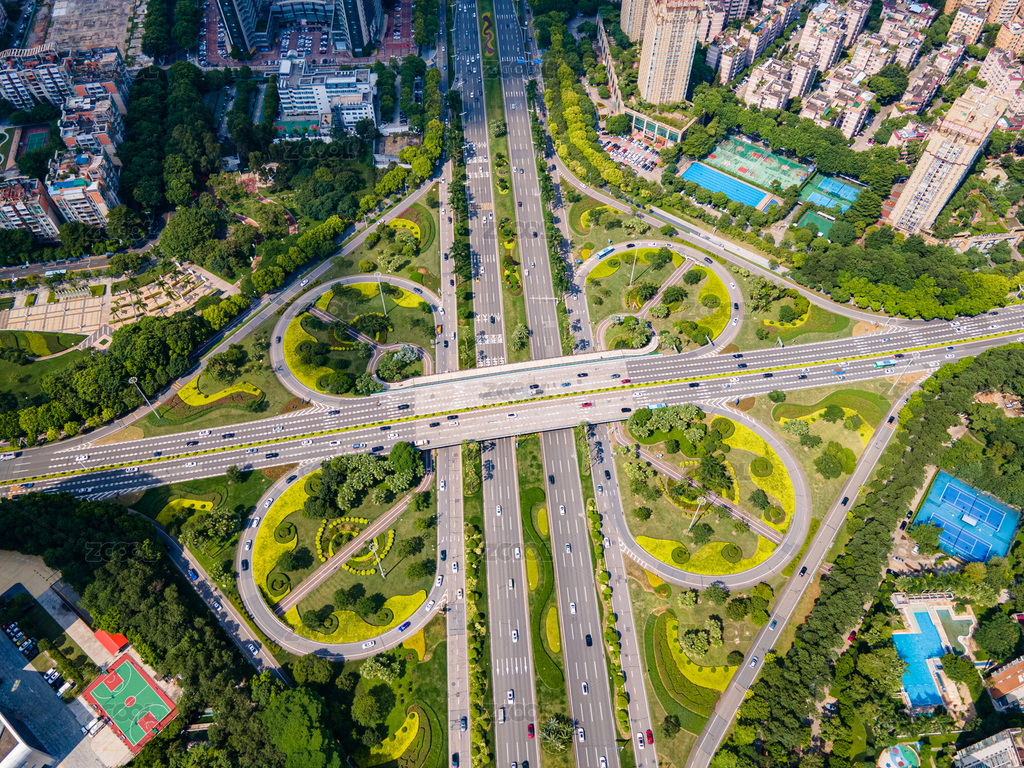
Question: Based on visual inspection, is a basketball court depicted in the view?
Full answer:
Yes, there's a basketball court here.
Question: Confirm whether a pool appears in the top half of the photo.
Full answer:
Yes, a pool can be seen in the top half of the photo.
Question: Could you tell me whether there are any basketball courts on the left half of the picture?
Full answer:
Yes, I can see a basketball court on the left half of the picture.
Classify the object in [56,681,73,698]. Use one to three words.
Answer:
vehicle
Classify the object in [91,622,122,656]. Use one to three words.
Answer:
shed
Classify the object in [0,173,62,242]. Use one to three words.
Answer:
building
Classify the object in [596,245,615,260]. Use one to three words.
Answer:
vehicle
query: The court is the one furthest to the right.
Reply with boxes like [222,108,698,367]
[913,466,1024,563]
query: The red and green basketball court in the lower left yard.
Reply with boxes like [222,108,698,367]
[81,653,178,754]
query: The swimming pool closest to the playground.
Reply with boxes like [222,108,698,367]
[890,592,979,726]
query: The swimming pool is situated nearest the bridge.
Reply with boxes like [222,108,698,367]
[671,156,783,214]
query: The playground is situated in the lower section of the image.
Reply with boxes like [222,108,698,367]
[879,745,920,768]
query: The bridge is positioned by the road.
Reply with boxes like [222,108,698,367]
[377,345,657,455]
